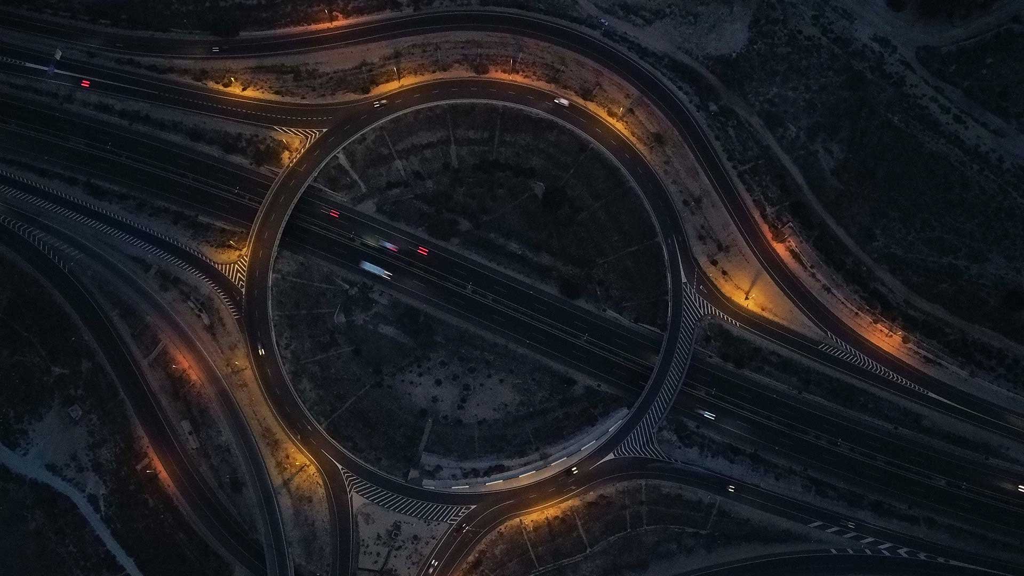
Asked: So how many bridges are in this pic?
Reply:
2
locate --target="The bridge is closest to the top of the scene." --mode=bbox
[245,143,328,265]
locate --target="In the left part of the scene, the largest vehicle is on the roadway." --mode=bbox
[360,260,391,278]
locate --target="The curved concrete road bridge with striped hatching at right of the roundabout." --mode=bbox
[618,321,700,460]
